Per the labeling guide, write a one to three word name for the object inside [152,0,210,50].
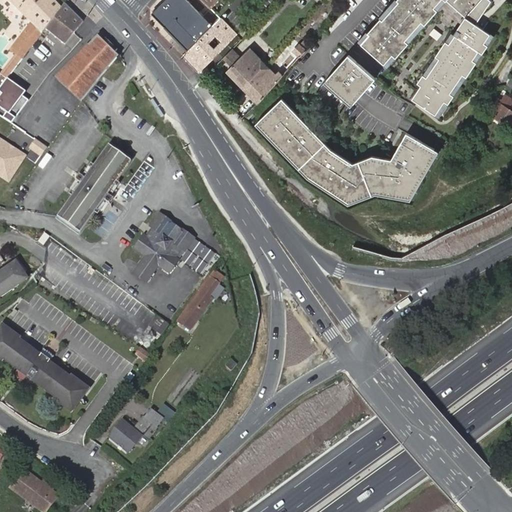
building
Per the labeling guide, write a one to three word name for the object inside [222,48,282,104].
house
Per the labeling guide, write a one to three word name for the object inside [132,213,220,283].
building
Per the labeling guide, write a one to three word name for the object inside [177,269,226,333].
house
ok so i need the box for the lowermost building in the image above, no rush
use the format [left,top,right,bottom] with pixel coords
[9,472,56,512]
